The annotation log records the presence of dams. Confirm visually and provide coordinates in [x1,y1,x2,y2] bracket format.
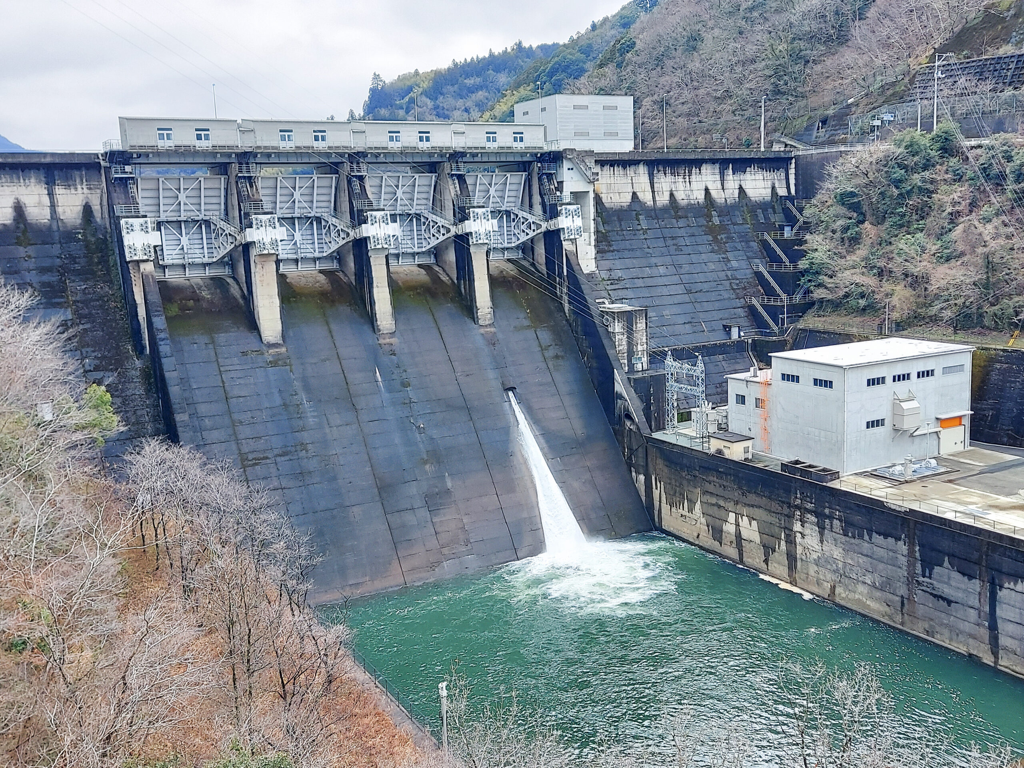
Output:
[0,150,848,603]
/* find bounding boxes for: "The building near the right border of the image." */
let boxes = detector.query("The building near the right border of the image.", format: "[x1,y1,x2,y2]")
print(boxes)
[721,341,982,474]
